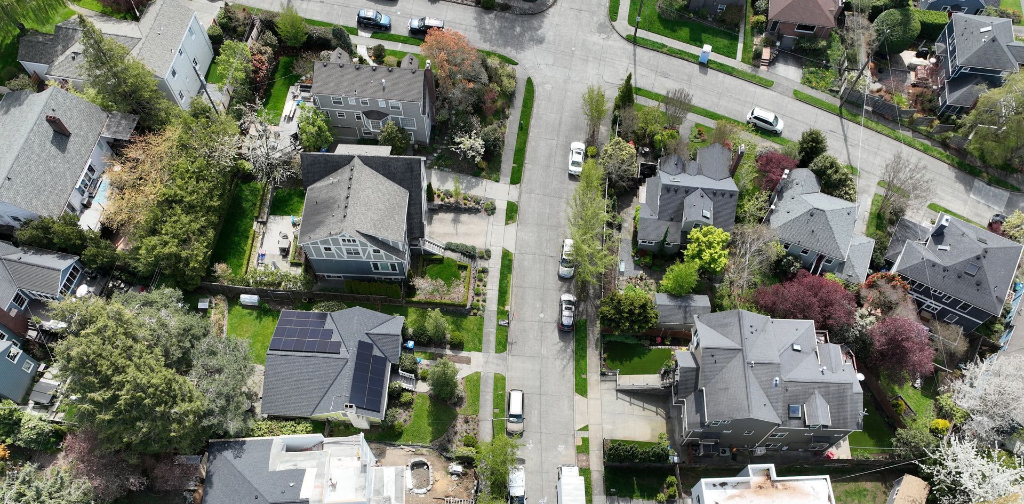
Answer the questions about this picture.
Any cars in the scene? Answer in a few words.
Yes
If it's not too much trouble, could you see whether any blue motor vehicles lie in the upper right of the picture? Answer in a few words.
No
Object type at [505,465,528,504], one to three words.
vehicle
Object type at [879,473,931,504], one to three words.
shed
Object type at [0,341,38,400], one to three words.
house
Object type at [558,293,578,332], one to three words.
car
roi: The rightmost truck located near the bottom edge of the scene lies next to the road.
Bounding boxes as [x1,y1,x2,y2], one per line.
[556,464,585,504]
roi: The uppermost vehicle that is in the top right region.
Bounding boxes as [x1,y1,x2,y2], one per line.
[747,108,784,135]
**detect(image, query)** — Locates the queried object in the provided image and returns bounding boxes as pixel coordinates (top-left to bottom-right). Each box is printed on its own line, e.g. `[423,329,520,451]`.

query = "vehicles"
[356,10,392,31]
[568,142,586,177]
[985,209,1008,233]
[558,293,578,332]
[504,389,526,436]
[747,108,784,135]
[557,238,577,280]
[505,465,528,504]
[409,14,443,34]
[556,464,585,504]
